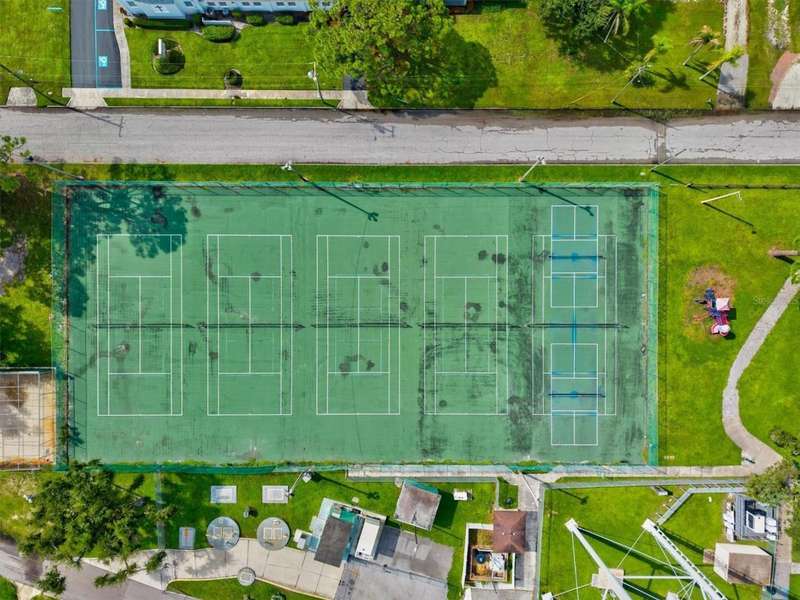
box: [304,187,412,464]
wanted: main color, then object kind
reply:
green tennis court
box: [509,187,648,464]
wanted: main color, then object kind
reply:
green tennis court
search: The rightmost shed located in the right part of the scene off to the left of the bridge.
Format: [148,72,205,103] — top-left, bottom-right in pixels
[491,508,527,553]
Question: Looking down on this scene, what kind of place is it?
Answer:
sports ground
